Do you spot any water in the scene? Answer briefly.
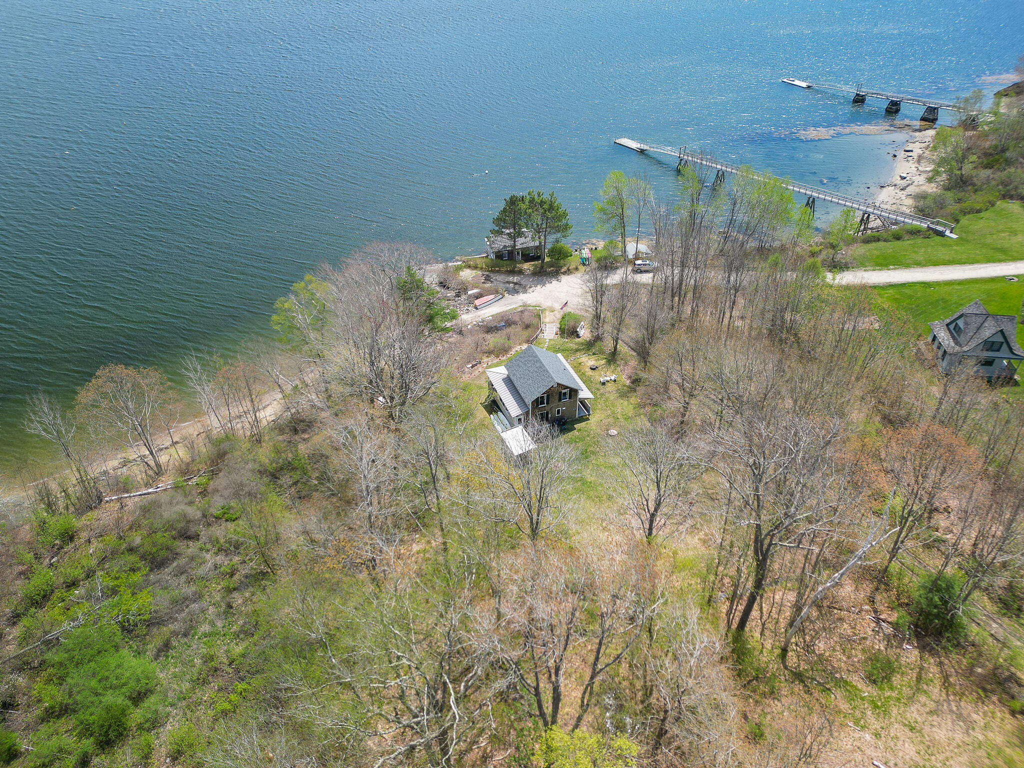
Yes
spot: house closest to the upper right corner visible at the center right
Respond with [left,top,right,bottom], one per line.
[925,299,1024,379]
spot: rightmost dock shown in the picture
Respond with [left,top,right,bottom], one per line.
[850,82,1017,122]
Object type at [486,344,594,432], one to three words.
house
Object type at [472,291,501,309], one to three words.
boat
